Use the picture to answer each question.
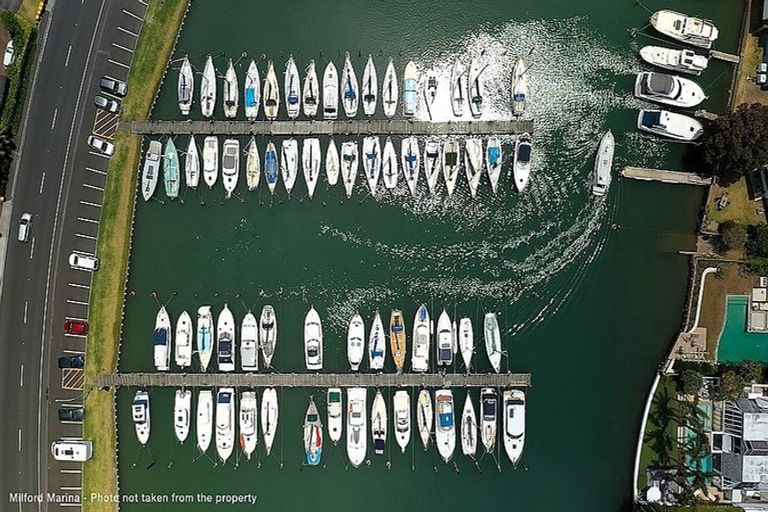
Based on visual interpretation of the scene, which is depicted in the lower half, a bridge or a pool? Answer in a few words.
pool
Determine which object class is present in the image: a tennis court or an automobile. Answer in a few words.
automobile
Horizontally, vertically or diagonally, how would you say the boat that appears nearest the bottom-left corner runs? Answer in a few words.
vertically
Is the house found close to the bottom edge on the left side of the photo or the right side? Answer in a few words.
right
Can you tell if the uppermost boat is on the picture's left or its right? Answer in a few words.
right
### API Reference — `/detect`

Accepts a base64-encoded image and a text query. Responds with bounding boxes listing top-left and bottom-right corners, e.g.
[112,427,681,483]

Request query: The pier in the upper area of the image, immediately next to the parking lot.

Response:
[131,119,534,138]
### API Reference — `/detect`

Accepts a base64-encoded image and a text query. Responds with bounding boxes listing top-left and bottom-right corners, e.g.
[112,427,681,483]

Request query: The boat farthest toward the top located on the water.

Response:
[637,3,718,48]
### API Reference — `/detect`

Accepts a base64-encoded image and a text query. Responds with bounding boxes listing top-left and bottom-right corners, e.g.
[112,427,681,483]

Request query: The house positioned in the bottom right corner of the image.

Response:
[706,383,768,512]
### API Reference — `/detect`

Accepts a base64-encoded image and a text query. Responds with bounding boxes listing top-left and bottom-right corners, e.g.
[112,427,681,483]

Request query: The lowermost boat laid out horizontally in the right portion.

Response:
[634,112,706,140]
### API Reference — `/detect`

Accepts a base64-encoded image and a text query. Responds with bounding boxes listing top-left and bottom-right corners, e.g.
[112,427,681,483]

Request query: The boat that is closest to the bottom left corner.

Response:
[132,389,152,464]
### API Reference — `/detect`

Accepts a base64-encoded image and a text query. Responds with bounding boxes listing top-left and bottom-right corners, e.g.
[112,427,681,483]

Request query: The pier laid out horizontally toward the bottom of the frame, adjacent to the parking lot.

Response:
[98,370,531,390]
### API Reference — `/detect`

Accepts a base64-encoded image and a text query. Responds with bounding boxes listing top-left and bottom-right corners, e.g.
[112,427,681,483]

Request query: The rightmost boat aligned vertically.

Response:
[592,129,614,197]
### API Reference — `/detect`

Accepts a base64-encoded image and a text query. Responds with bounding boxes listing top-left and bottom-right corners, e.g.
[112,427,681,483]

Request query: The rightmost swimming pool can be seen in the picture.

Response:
[716,296,768,364]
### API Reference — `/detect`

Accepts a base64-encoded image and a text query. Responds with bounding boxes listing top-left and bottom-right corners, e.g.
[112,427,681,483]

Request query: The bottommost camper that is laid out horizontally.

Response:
[49,442,97,461]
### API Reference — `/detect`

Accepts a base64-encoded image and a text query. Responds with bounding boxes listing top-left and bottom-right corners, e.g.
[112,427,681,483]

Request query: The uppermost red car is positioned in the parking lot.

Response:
[63,320,90,334]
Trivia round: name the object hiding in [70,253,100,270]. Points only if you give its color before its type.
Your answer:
white car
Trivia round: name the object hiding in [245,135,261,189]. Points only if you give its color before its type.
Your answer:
white boat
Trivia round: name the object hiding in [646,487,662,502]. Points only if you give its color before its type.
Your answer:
white umbrella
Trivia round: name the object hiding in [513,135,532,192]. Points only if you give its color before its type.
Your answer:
white boat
